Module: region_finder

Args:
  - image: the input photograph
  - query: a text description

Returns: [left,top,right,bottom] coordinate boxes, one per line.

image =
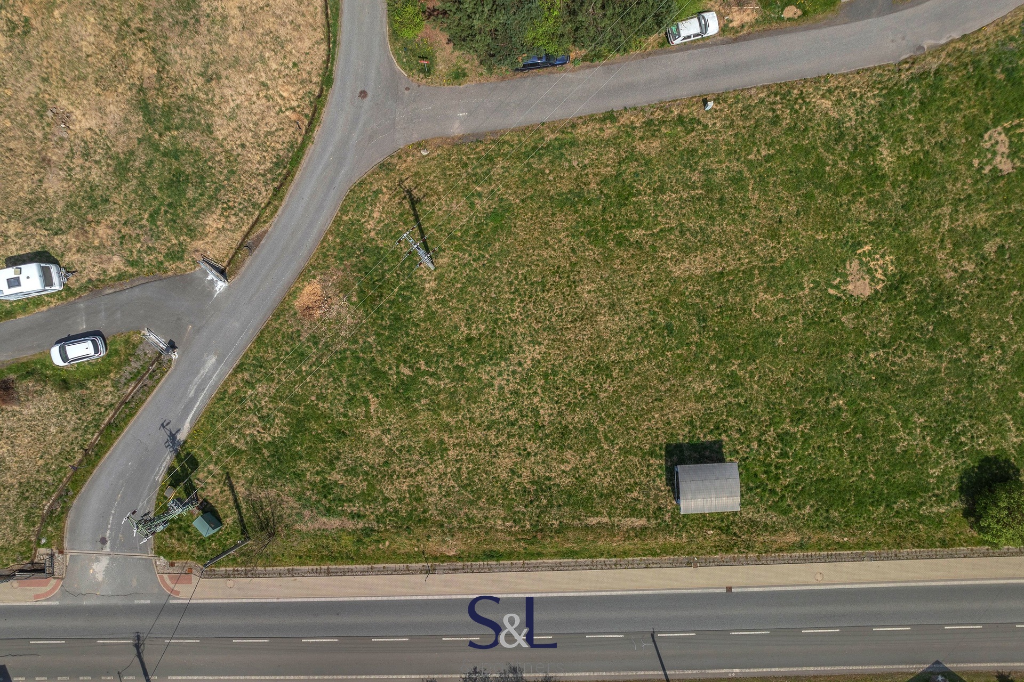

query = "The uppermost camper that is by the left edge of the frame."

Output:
[0,263,80,302]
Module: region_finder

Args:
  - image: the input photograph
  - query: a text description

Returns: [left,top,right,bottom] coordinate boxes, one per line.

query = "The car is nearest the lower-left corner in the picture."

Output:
[52,333,112,366]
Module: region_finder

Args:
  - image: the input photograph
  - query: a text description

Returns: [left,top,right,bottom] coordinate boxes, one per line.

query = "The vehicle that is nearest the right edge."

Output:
[665,13,719,46]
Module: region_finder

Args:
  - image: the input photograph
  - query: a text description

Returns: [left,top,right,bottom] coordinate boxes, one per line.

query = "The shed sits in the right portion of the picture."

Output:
[672,461,741,514]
